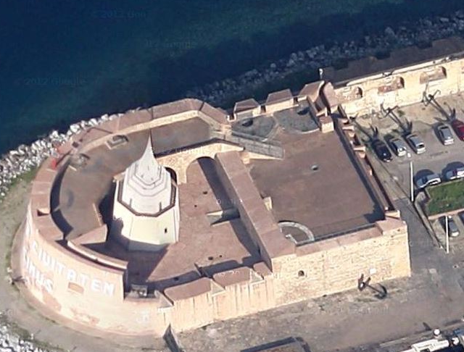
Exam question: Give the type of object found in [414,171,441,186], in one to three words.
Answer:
car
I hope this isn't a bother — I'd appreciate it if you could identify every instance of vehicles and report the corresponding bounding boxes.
[442,164,464,180]
[373,140,391,160]
[390,136,408,158]
[407,133,427,154]
[451,120,464,141]
[435,125,457,146]
[414,171,441,186]
[441,217,460,238]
